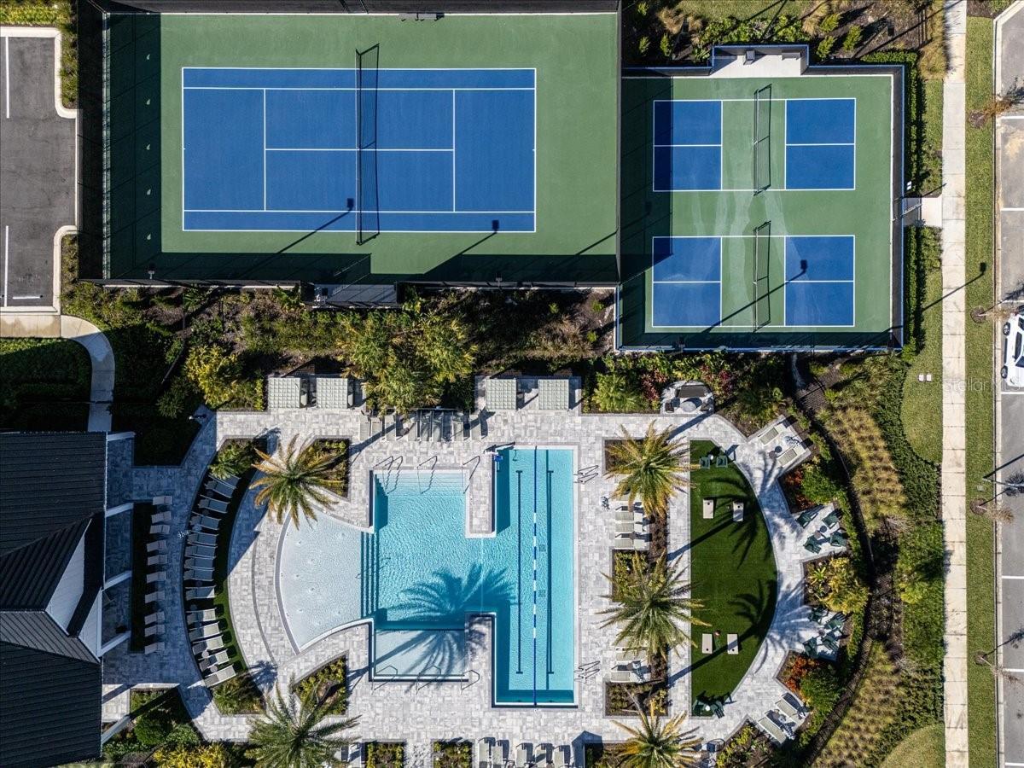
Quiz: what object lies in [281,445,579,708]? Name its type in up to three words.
swimming pool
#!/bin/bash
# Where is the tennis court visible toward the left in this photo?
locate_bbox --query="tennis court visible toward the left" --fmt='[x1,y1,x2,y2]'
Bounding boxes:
[102,12,617,309]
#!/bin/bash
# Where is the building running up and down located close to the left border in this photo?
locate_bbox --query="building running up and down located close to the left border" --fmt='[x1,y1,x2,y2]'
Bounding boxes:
[0,431,135,768]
